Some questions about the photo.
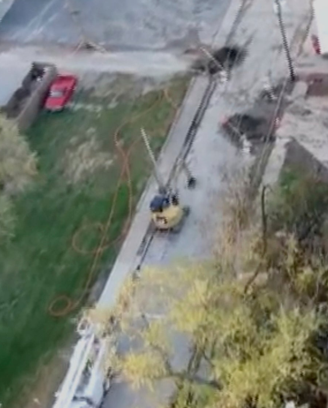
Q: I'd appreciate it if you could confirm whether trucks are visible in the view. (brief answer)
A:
Yes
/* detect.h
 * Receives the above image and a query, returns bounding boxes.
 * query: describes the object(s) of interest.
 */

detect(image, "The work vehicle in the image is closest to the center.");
[140,152,213,241]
